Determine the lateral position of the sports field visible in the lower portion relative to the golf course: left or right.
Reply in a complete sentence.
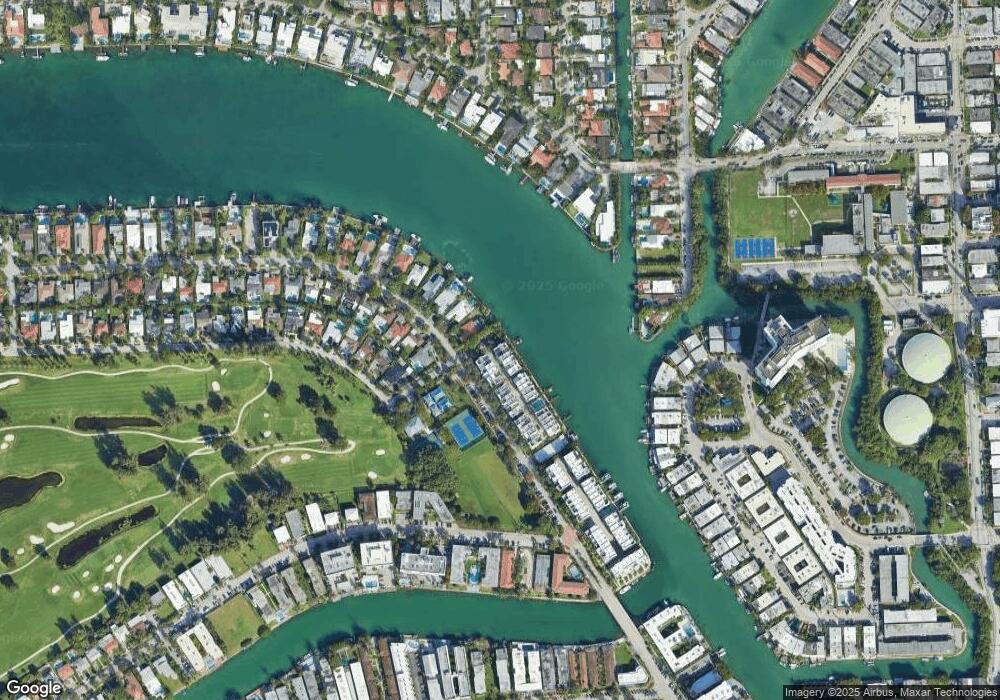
The sports field visible in the lower portion can be seen on the right of the golf course.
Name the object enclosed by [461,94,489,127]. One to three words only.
house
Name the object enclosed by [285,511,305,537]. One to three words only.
building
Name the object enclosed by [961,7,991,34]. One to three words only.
building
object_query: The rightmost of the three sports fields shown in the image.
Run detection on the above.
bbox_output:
[793,193,853,238]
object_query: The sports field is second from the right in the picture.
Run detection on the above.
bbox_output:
[730,167,812,251]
